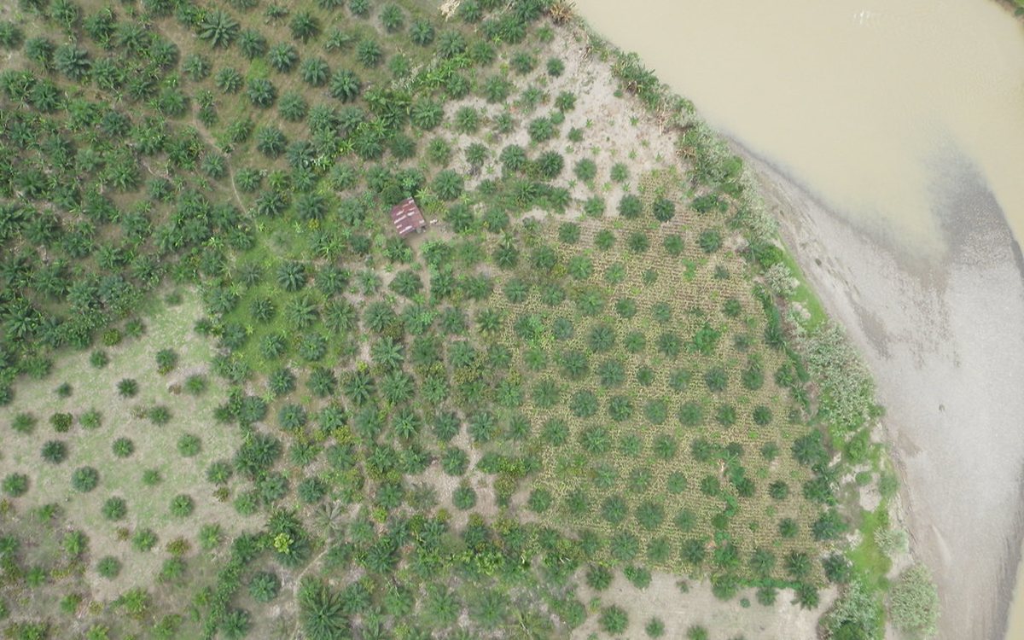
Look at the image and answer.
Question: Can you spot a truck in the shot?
No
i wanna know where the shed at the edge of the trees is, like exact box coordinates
[390,197,427,237]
